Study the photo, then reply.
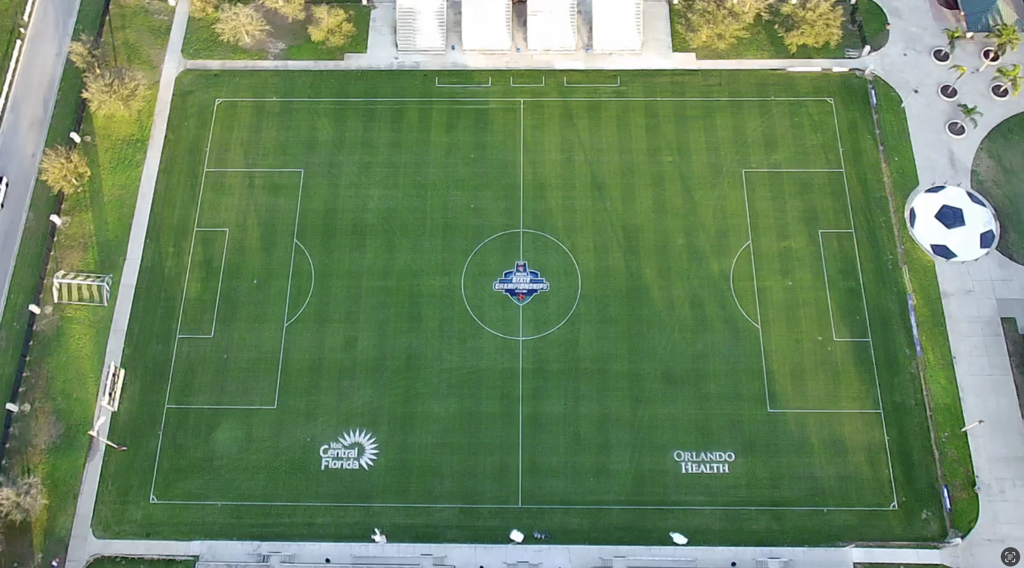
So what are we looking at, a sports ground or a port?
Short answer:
sports ground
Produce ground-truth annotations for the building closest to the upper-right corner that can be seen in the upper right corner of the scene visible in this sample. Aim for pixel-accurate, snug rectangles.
[958,0,1013,40]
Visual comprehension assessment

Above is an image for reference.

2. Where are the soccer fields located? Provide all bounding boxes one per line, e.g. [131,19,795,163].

[91,70,946,548]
